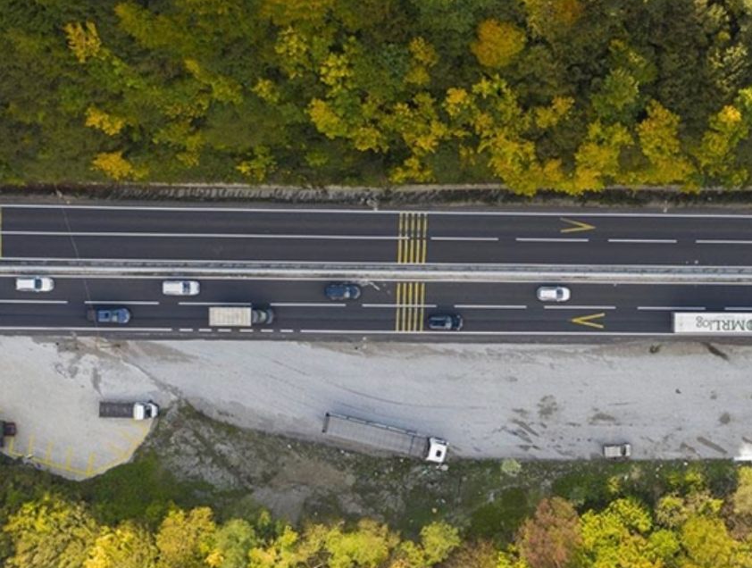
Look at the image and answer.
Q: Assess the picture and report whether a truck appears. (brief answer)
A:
Yes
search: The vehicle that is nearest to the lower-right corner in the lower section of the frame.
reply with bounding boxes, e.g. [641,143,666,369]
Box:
[602,442,629,458]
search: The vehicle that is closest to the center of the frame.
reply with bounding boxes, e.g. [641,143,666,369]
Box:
[325,283,360,300]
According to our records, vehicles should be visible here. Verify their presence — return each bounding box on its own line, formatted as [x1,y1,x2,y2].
[602,442,629,458]
[163,280,200,297]
[19,277,55,293]
[322,413,449,465]
[99,399,162,421]
[675,312,752,334]
[87,307,131,325]
[325,283,360,300]
[537,286,570,302]
[427,315,462,331]
[209,306,277,326]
